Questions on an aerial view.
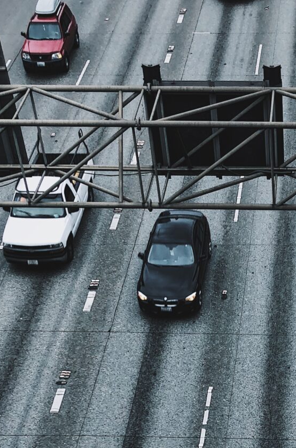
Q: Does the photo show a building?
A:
No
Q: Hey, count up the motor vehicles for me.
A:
3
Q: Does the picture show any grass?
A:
No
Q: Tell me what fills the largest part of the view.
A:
paved ground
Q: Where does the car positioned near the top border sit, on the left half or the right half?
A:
left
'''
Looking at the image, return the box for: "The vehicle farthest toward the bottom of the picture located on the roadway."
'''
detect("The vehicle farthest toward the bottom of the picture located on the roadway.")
[137,214,215,321]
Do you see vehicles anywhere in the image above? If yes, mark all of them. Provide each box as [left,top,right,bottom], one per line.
[2,130,91,267]
[18,2,80,71]
[137,214,215,321]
